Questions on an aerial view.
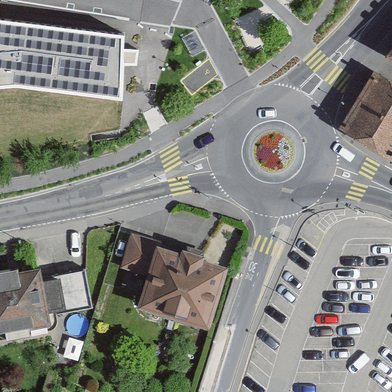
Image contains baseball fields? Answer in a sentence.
No, no baseball field is visible in the view.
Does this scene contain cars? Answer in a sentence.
Yes, a car is visible in the scene.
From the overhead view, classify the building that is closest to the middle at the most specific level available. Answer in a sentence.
The building that is closest to the middle in the image is a residential house.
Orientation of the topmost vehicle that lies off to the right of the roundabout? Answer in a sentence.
What the image shows is the topmost vehicle that lies off to the right of the roundabout lying diagonally.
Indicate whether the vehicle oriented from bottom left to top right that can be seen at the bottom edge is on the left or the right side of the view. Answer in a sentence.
It is on the right.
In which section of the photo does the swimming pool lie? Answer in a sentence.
Look in the bottom left portion of the view to spot the swimming pool.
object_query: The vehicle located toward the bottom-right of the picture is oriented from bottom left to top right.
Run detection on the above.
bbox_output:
[347,350,372,375]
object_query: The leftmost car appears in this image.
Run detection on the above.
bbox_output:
[69,232,82,258]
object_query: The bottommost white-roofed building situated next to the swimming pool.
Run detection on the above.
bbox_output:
[64,338,84,361]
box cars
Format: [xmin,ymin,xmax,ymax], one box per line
[366,256,390,268]
[336,268,360,280]
[264,303,288,324]
[257,328,280,350]
[372,245,392,256]
[280,270,302,290]
[316,314,339,326]
[337,326,362,338]
[370,370,392,390]
[276,284,298,304]
[193,131,216,149]
[332,337,356,348]
[352,291,374,303]
[309,326,334,338]
[374,358,392,378]
[358,280,378,292]
[242,375,266,392]
[378,346,392,364]
[116,238,128,258]
[348,302,372,314]
[324,290,348,302]
[334,280,356,292]
[287,250,311,272]
[339,256,364,268]
[69,232,82,258]
[296,238,318,258]
[322,302,345,314]
[256,108,278,119]
[329,349,350,360]
[294,382,316,392]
